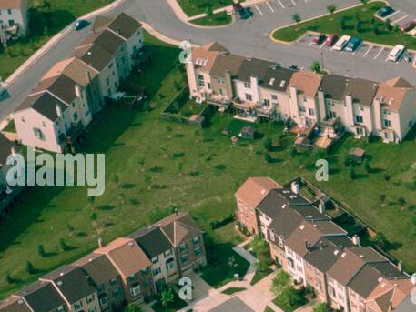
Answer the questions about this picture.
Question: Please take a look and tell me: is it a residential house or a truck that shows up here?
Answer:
residential house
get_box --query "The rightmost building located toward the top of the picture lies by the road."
[370,76,416,144]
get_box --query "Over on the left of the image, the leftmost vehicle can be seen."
[72,16,91,29]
